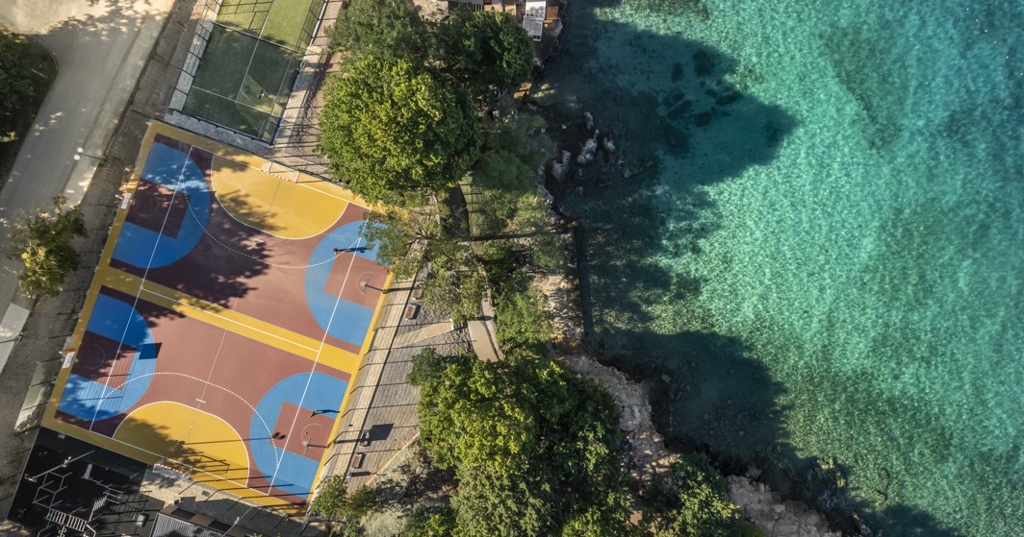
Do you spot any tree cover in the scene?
Yes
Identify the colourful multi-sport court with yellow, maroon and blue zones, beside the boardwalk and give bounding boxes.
[41,119,417,522]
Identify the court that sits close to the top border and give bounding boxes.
[162,0,322,145]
